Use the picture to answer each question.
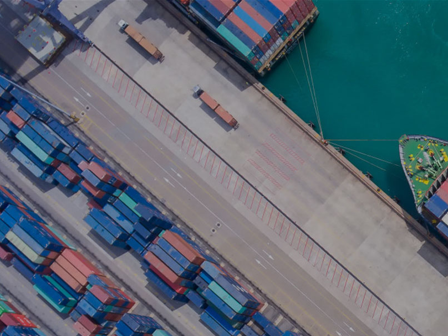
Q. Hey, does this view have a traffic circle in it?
No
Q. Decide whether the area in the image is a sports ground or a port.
port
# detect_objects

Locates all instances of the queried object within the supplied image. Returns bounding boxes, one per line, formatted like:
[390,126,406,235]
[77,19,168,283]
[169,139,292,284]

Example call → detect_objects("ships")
[398,133,448,241]
[174,0,326,85]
